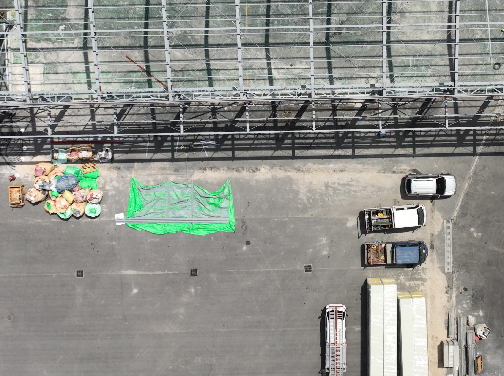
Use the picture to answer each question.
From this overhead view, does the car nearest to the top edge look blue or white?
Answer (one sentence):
The color of the car nearest to the top edge is white.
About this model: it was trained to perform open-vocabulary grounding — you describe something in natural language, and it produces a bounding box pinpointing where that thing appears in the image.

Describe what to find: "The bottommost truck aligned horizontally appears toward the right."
[364,239,428,267]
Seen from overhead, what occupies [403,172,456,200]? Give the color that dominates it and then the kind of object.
white car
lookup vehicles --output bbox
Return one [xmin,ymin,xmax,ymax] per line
[403,172,456,200]
[364,239,428,267]
[322,304,349,376]
[362,202,427,235]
